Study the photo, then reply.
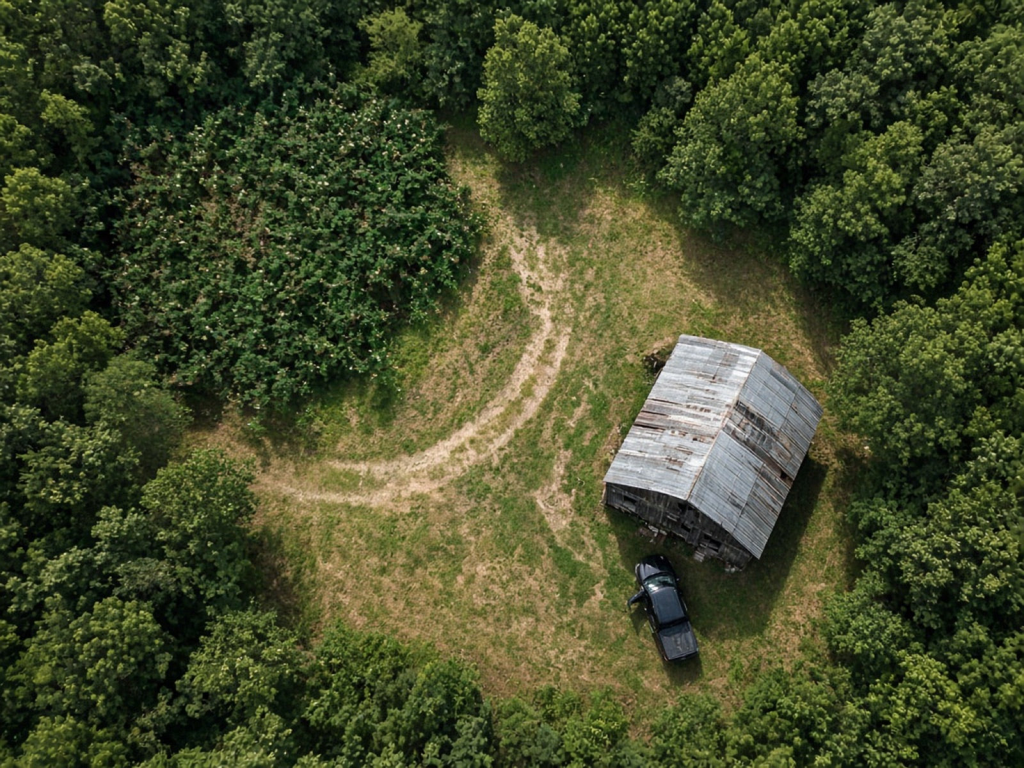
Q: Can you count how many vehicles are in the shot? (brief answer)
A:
1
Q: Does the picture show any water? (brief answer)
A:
No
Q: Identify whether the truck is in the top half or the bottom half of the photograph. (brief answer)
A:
bottom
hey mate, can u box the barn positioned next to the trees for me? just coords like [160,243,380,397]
[602,336,822,570]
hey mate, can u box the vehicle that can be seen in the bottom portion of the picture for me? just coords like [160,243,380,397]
[629,552,702,665]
